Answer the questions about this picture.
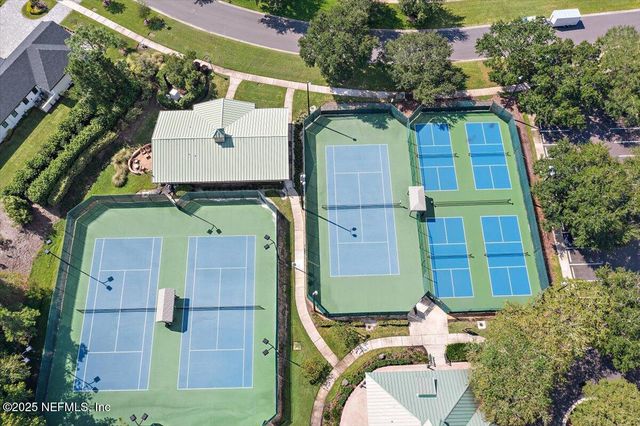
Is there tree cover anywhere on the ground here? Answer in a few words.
Yes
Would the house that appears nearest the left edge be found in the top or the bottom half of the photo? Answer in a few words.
top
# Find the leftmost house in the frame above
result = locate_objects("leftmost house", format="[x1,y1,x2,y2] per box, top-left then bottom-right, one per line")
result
[0,20,83,142]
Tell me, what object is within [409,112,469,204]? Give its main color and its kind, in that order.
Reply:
blue sports court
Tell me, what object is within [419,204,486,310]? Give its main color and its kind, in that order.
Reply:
blue sports court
